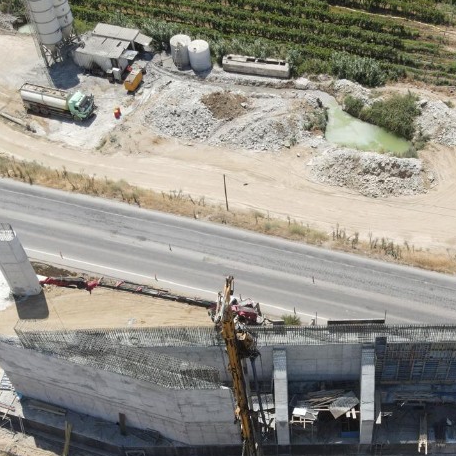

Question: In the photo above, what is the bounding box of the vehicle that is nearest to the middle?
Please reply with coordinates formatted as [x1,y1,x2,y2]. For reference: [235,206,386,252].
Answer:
[59,275,263,325]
